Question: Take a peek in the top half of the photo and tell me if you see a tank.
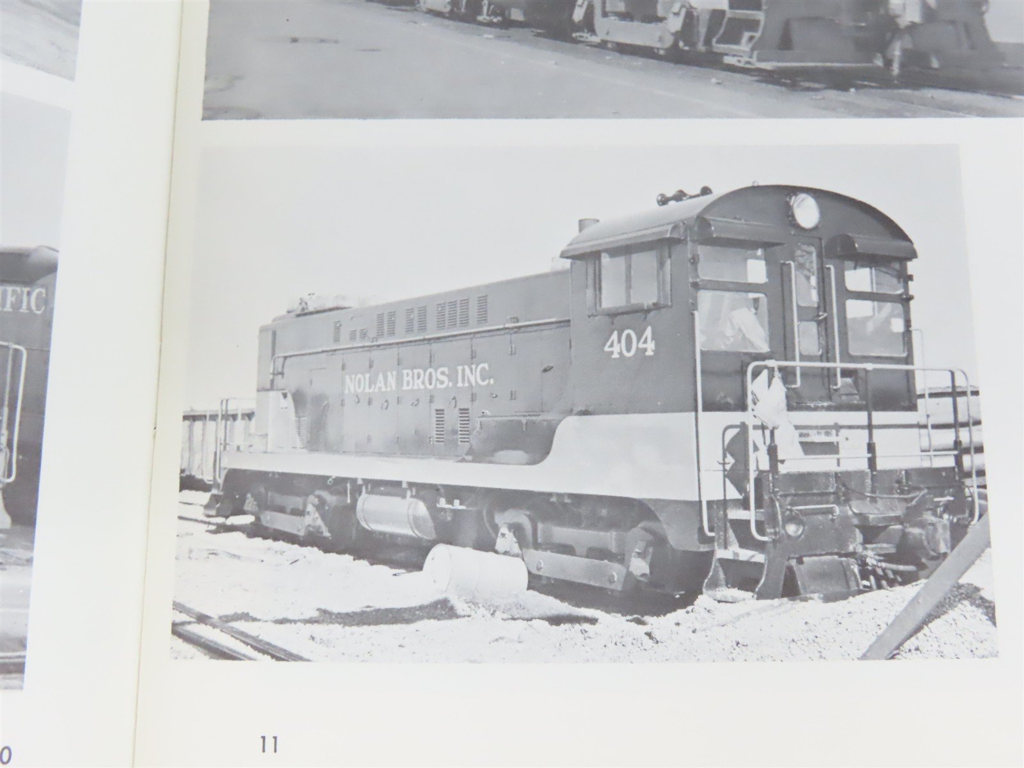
No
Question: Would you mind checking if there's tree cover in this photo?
No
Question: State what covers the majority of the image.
buildings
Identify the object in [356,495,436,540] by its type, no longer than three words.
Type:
storage tank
